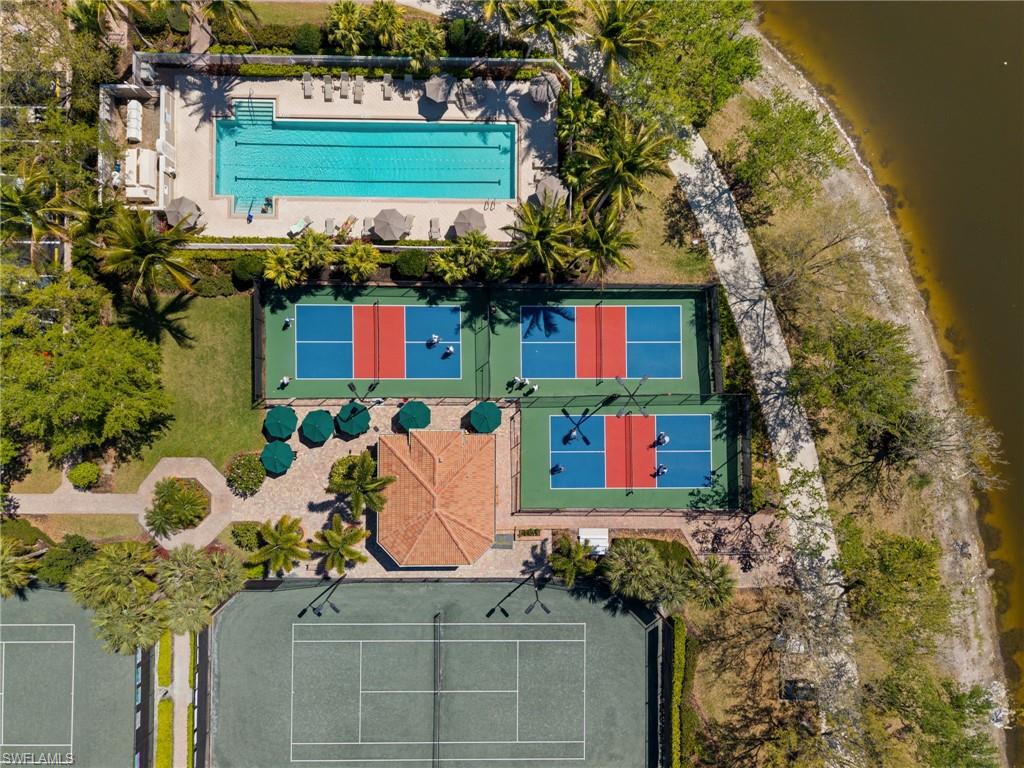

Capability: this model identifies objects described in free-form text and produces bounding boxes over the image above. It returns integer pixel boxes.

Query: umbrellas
[337,401,371,435]
[373,207,410,243]
[451,205,486,238]
[469,400,502,433]
[302,410,336,444]
[423,75,458,113]
[532,173,568,209]
[398,398,432,429]
[266,407,299,439]
[167,195,202,230]
[262,441,296,475]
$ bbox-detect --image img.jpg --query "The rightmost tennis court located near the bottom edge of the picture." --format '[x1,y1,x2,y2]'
[207,580,659,768]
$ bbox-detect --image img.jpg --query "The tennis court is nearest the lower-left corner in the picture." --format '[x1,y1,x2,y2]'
[0,588,150,768]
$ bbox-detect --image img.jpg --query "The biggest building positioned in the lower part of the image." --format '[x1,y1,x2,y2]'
[376,427,497,567]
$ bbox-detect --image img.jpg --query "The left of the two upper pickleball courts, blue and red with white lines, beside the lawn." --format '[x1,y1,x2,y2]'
[263,288,489,398]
